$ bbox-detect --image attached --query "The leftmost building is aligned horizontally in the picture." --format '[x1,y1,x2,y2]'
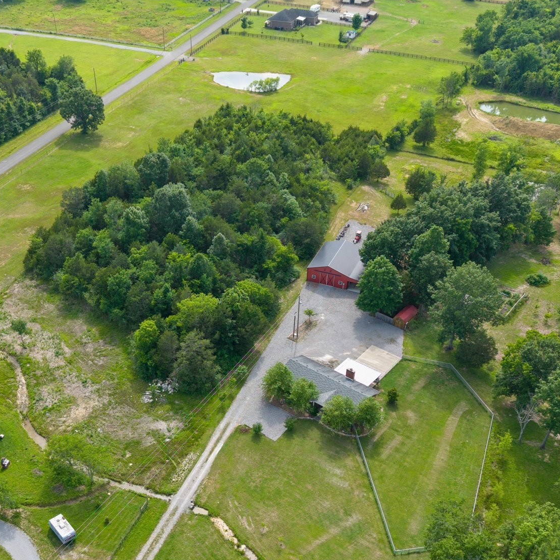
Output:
[270,9,323,30]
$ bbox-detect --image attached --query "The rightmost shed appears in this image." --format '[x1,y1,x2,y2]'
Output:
[394,308,422,330]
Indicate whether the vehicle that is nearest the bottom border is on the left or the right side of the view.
left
